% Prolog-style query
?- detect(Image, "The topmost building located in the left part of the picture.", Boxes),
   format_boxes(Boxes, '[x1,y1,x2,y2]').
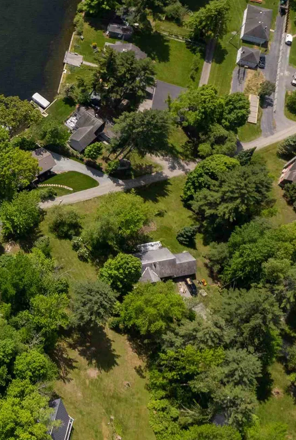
[105,22,132,41]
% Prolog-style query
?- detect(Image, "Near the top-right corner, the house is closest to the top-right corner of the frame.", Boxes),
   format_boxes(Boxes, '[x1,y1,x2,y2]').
[241,10,274,49]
